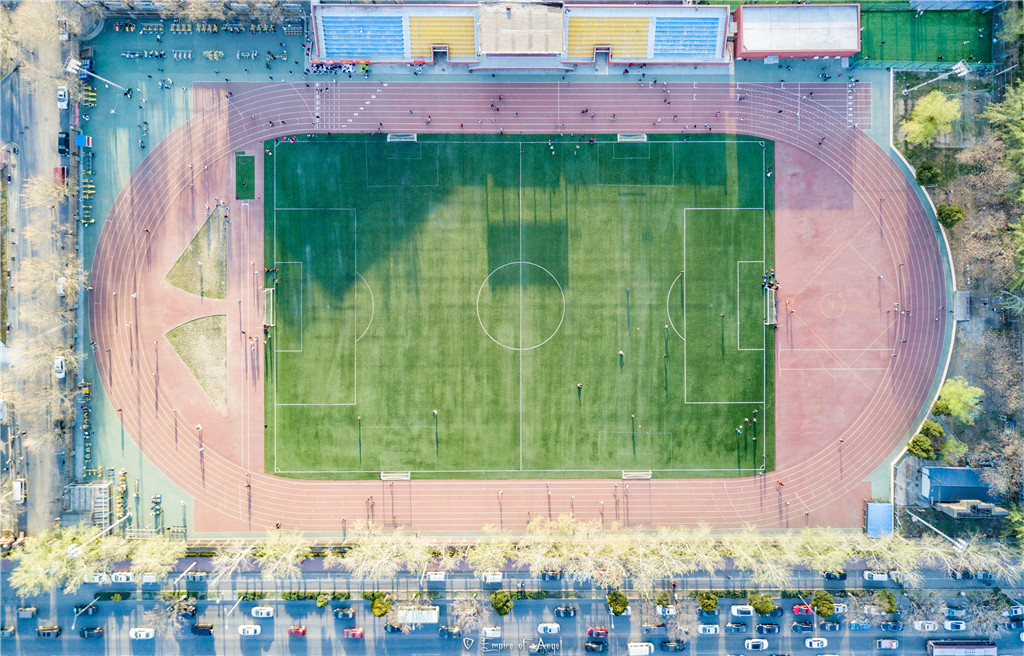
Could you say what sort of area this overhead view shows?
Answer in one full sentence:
The picture captures a sports ground.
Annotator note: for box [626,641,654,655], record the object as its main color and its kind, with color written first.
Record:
white vehicle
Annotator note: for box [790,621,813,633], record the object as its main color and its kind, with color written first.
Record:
blue vehicle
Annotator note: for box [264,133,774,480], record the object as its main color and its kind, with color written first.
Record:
green soccer field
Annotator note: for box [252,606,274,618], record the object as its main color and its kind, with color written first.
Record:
white vehicle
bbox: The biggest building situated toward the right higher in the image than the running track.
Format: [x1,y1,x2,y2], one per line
[734,4,859,67]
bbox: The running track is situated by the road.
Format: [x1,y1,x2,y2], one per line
[88,82,947,531]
